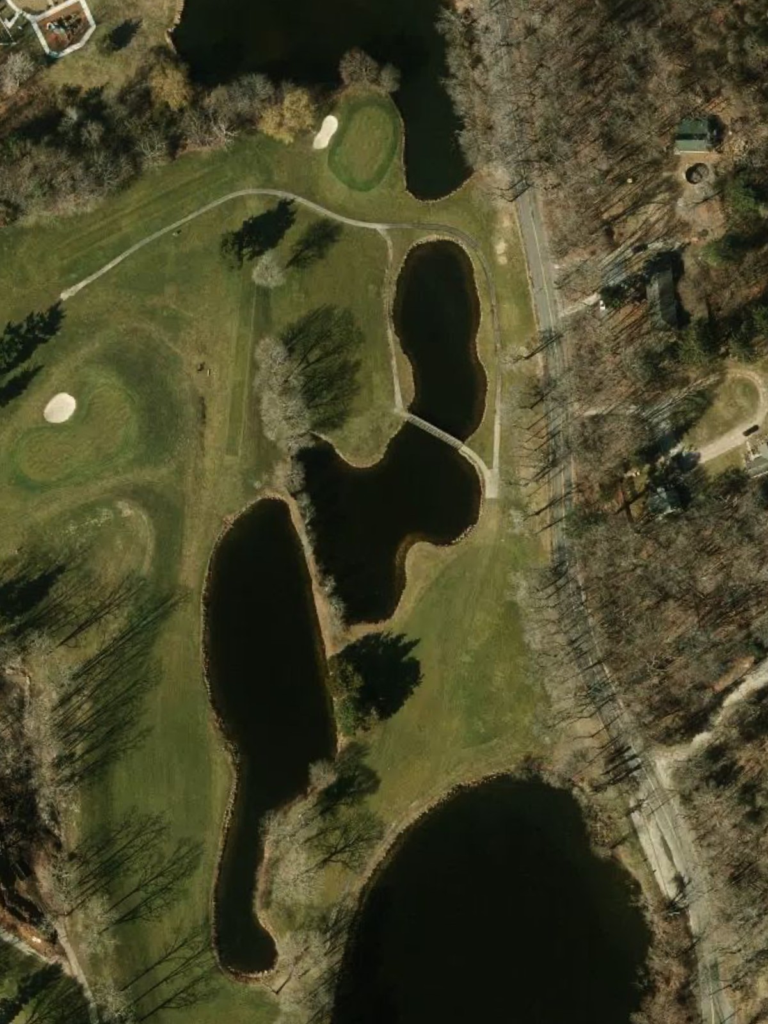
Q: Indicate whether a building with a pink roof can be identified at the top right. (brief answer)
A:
No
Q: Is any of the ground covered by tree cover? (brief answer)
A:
Yes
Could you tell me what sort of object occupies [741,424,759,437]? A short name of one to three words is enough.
vehicle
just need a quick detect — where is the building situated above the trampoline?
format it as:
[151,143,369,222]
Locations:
[674,118,717,156]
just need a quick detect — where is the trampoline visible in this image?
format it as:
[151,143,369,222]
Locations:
[685,166,704,184]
